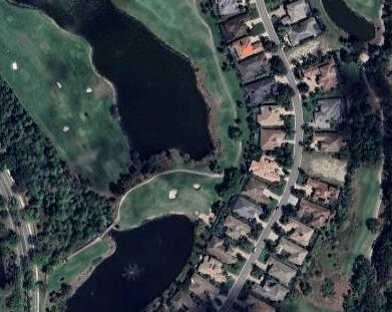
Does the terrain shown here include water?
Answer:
Yes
